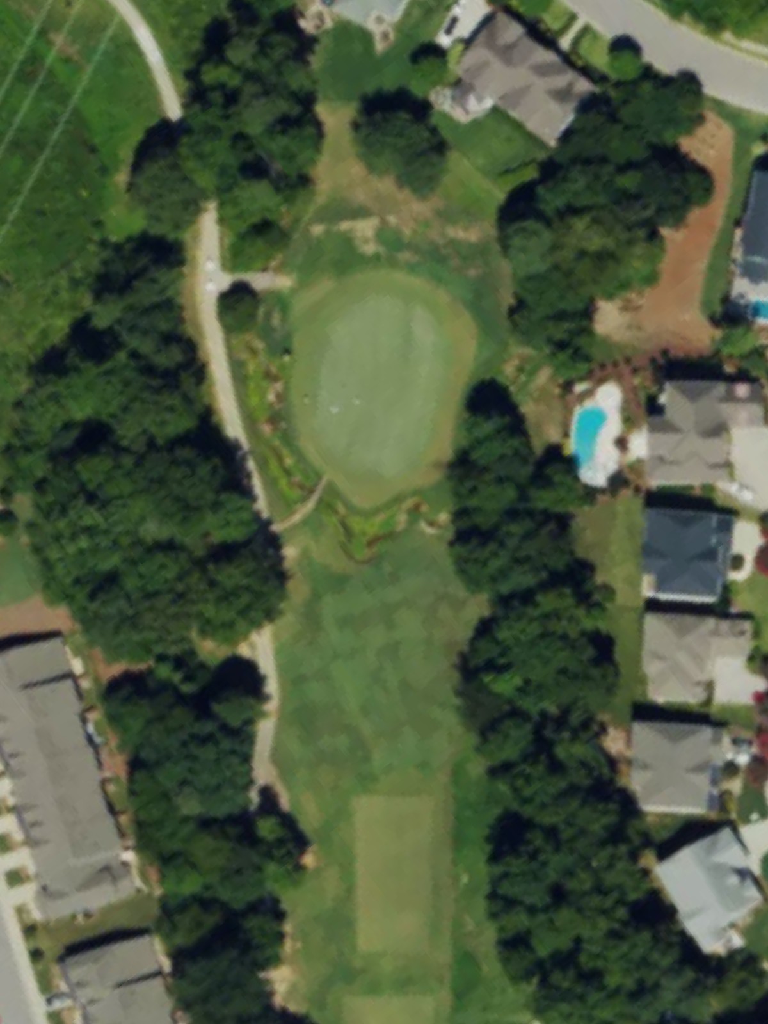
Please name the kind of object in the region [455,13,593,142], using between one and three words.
house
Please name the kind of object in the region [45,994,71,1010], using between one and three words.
car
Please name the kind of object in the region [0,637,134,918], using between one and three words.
house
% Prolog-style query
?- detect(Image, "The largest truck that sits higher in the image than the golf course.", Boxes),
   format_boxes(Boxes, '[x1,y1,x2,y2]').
[439,5,464,43]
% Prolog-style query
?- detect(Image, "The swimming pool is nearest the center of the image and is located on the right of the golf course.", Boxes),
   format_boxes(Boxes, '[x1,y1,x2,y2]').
[571,380,622,487]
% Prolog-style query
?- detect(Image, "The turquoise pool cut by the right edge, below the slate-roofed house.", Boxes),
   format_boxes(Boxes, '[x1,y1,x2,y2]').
[736,294,768,325]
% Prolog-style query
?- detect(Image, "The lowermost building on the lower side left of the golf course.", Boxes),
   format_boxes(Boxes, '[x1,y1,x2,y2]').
[63,931,176,1024]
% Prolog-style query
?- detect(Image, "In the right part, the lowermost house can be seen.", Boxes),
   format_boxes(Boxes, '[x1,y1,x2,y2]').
[657,828,765,954]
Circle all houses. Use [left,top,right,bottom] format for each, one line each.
[455,13,593,142]
[657,828,765,954]
[632,722,724,813]
[739,168,768,288]
[0,637,134,918]
[63,931,176,1024]
[642,612,753,701]
[644,510,733,603]
[324,0,412,30]
[648,381,765,485]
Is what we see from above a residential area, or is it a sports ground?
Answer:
residential area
